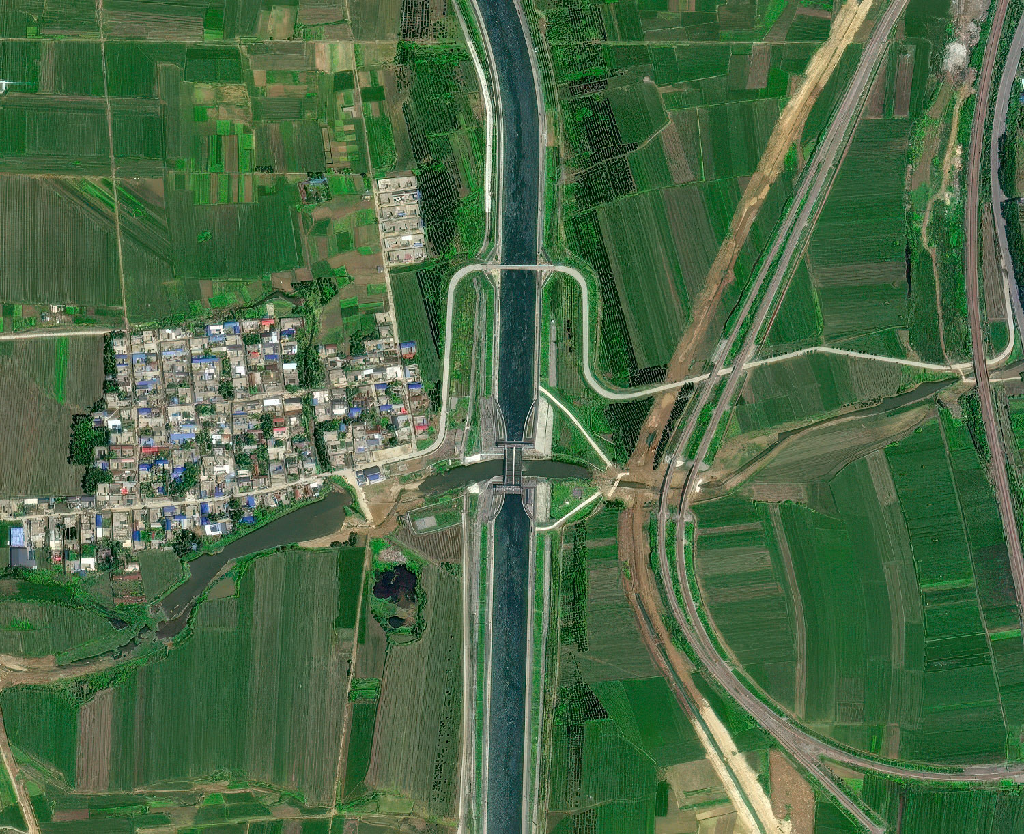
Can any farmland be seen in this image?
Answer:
Yes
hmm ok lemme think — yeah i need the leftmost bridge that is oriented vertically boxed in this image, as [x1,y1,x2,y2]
[505,448,523,486]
